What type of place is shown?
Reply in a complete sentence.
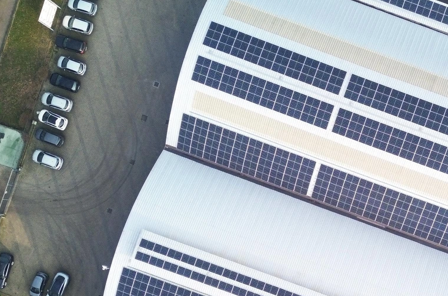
The picture captures an industrial area.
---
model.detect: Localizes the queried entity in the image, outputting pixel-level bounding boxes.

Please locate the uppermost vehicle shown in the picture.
[67,0,99,17]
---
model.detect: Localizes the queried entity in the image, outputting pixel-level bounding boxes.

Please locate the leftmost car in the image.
[0,252,15,289]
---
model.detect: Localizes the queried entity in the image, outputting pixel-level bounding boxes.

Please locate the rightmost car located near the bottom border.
[46,271,71,296]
